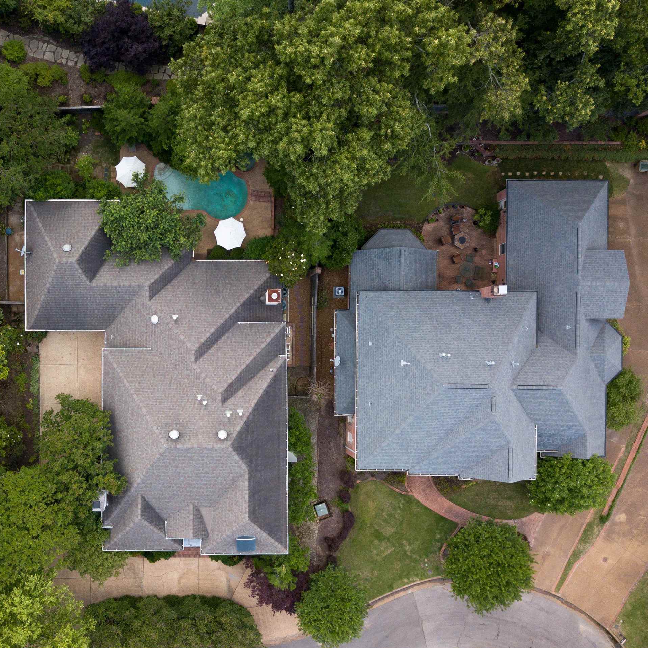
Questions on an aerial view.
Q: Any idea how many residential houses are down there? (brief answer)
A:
2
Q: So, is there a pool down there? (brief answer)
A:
Yes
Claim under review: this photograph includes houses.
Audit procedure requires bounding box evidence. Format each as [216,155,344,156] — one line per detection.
[24,199,297,556]
[332,179,630,483]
